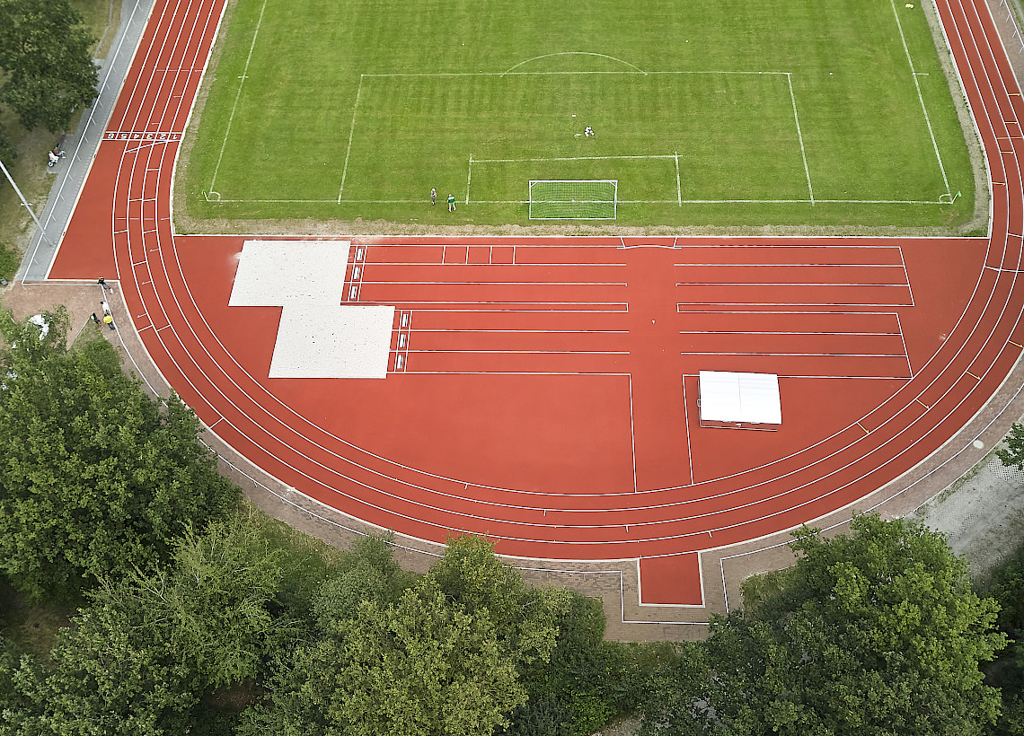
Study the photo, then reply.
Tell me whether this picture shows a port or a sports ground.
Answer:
sports ground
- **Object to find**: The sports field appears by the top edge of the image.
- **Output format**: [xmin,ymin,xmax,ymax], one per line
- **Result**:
[172,0,992,236]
